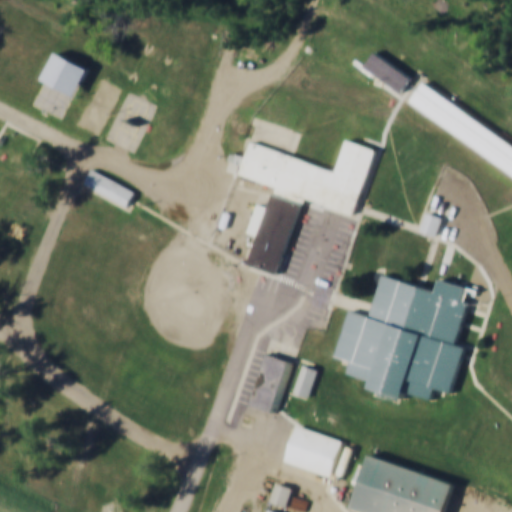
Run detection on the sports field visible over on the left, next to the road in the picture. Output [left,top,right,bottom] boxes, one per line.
[144,232,240,350]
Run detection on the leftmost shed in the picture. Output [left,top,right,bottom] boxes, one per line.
[38,53,84,96]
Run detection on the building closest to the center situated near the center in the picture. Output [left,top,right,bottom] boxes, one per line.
[247,195,302,273]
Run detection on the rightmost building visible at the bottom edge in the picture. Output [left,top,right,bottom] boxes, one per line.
[348,457,454,512]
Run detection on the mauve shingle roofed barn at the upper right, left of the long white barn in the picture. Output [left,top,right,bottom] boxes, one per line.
[364,52,412,92]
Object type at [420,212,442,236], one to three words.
shed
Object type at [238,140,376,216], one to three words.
building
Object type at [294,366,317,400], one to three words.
shed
